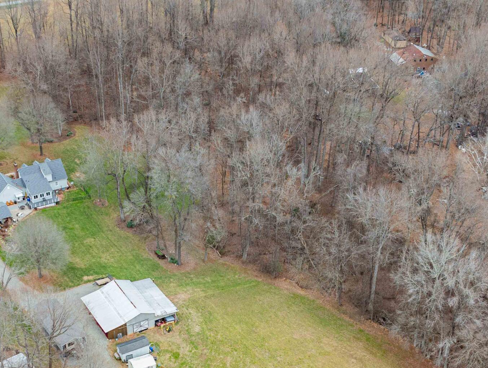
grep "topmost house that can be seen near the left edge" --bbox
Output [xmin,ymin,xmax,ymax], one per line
[0,159,69,208]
